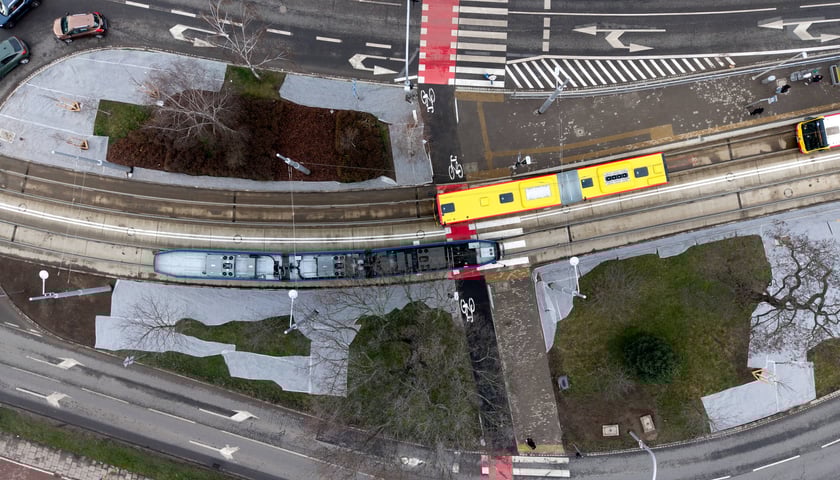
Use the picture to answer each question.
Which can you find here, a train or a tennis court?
train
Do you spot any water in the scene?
No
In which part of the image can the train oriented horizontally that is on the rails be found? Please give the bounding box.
[156,237,502,280]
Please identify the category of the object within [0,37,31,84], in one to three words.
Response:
car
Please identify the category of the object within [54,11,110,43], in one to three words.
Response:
car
